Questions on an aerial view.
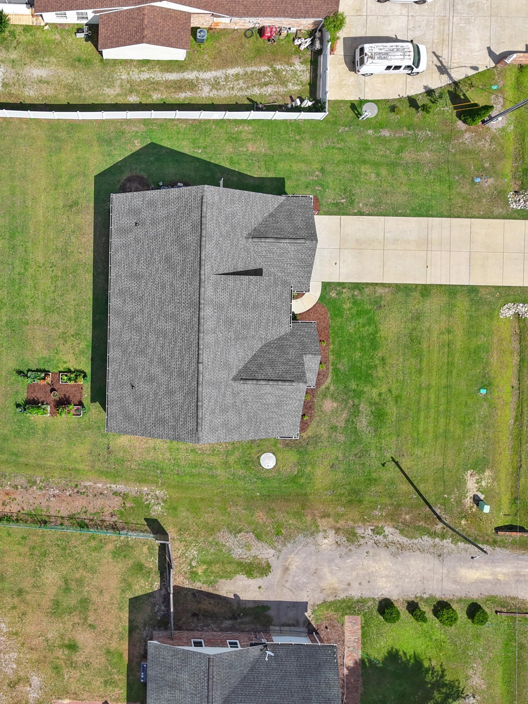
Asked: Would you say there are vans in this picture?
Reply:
Yes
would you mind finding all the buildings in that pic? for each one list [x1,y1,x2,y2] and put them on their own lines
[147,631,344,704]
[104,177,321,443]
[36,0,341,59]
